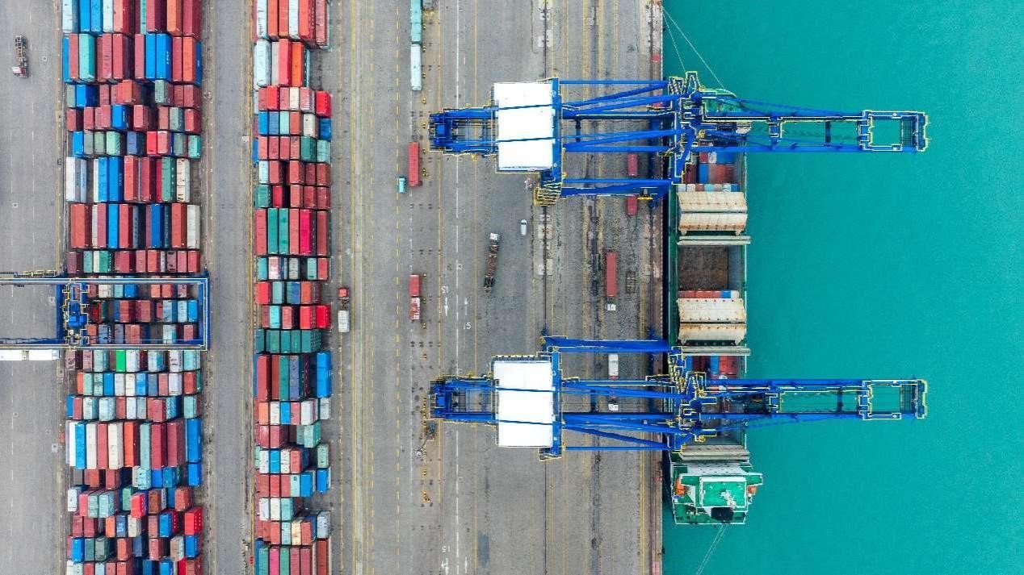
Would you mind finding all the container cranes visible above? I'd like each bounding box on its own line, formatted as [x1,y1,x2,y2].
[0,265,212,360]
[428,332,929,462]
[428,62,929,210]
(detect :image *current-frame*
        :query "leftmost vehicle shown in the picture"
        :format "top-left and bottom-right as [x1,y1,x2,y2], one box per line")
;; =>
[16,35,30,79]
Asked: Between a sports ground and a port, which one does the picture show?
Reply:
port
